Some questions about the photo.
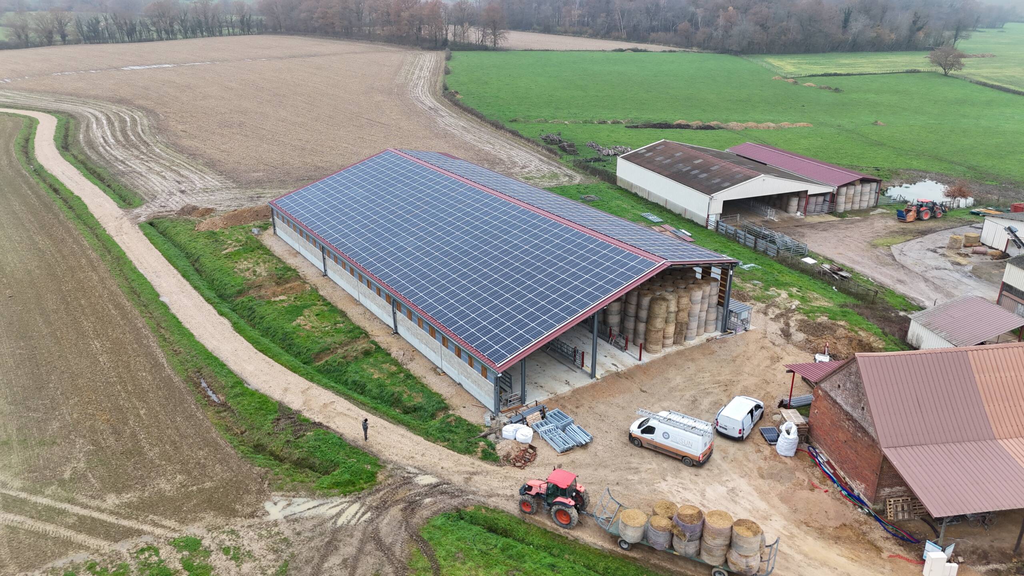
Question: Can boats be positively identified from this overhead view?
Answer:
No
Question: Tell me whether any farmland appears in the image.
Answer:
Yes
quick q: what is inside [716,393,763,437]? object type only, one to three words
van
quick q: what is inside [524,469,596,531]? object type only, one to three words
work vehicle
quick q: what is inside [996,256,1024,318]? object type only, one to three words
shed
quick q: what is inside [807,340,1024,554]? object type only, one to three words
barn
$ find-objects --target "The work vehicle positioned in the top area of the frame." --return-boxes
[919,197,960,221]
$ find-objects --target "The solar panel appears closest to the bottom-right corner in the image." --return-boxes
[758,423,779,438]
